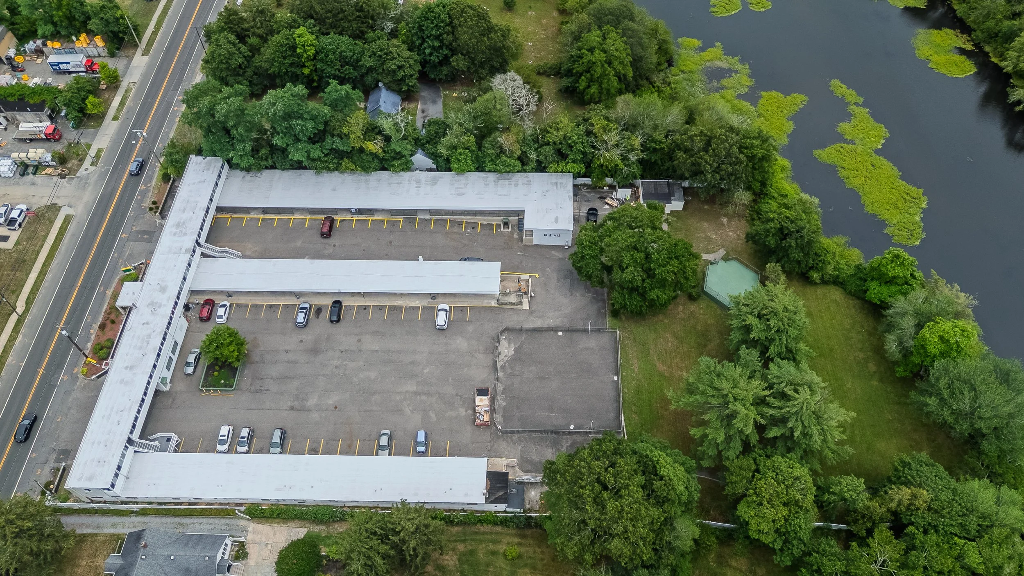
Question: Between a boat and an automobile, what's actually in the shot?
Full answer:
Looking from above, you can make out an automobile.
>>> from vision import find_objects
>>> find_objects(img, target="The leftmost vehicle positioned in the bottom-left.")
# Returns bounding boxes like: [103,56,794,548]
[15,413,38,443]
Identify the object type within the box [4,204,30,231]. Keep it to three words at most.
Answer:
truck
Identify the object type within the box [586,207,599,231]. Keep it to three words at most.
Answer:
vehicle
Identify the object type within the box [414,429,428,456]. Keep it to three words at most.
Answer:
car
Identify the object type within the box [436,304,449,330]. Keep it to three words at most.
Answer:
vehicle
